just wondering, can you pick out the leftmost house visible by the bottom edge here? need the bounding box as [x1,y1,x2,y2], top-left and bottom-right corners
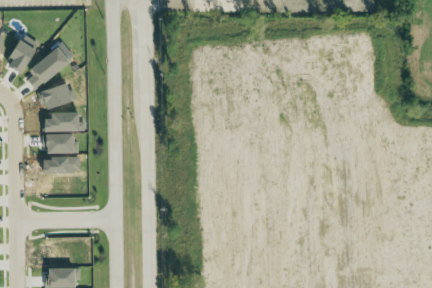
[46,268,82,288]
